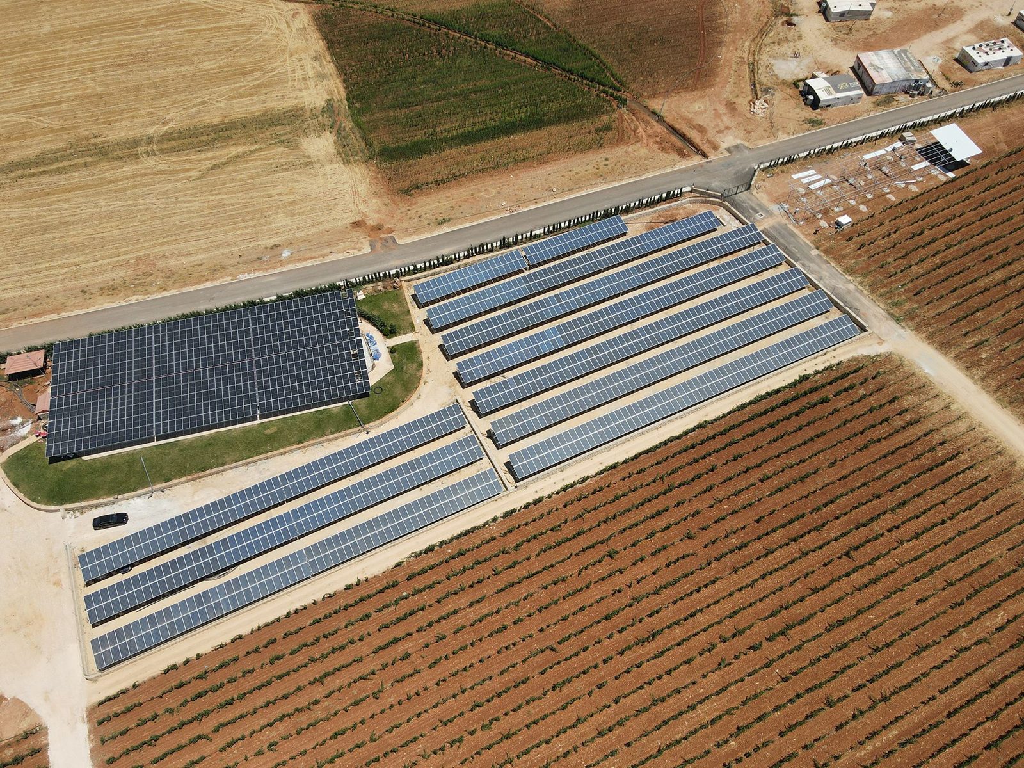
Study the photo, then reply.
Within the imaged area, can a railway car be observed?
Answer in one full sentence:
No, I find no railway car anywhere in the image.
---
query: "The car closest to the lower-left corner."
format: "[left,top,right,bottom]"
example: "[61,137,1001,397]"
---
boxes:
[90,513,126,532]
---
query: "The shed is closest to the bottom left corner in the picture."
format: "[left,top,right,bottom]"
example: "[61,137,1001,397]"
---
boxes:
[34,393,57,420]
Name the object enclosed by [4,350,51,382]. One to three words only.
gazebo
